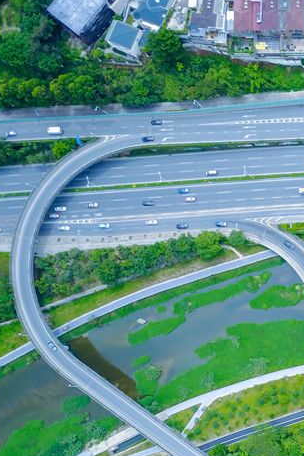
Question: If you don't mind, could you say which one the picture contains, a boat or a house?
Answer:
house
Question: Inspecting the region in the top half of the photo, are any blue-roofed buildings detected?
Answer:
Yes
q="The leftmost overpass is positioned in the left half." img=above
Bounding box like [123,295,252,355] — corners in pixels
[8,139,213,456]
